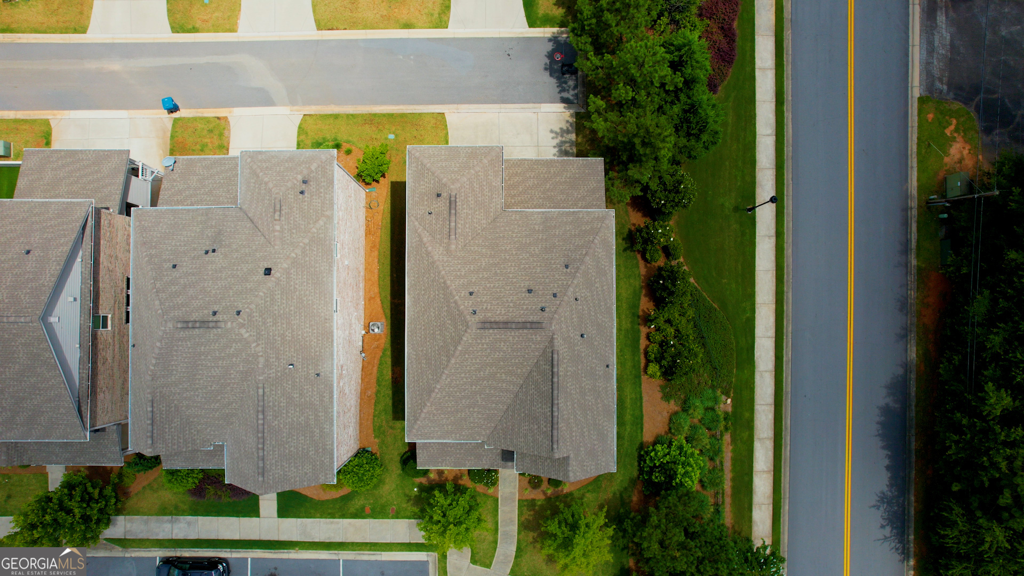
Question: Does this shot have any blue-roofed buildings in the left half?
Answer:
No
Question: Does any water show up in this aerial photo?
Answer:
No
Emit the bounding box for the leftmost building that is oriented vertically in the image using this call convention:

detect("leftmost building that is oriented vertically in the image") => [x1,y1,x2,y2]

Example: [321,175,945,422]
[0,148,153,471]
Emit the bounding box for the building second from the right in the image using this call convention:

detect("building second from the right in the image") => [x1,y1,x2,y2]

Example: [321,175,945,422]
[126,149,370,498]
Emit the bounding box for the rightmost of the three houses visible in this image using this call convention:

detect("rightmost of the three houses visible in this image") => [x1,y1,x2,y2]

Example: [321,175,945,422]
[405,143,618,484]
